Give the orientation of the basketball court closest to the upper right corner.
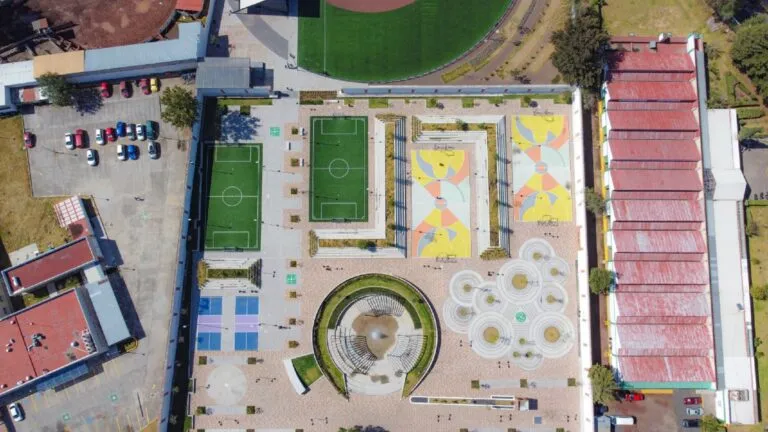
up and down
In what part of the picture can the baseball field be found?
top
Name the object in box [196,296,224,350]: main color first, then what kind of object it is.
blue sports court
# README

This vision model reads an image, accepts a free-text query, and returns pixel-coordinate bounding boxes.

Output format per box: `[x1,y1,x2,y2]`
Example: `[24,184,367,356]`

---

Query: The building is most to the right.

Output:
[707,110,761,425]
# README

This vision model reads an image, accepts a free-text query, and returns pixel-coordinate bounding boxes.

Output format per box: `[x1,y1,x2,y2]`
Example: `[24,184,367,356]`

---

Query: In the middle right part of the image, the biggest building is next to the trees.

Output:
[598,38,718,392]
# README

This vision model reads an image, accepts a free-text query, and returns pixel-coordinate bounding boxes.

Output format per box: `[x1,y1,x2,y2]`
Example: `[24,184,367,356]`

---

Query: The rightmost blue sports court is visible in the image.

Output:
[232,296,259,350]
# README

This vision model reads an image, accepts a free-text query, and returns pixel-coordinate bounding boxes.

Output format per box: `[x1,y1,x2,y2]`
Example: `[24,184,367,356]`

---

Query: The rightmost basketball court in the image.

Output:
[512,107,573,230]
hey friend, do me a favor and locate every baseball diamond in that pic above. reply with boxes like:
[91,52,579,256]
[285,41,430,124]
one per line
[298,0,514,86]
